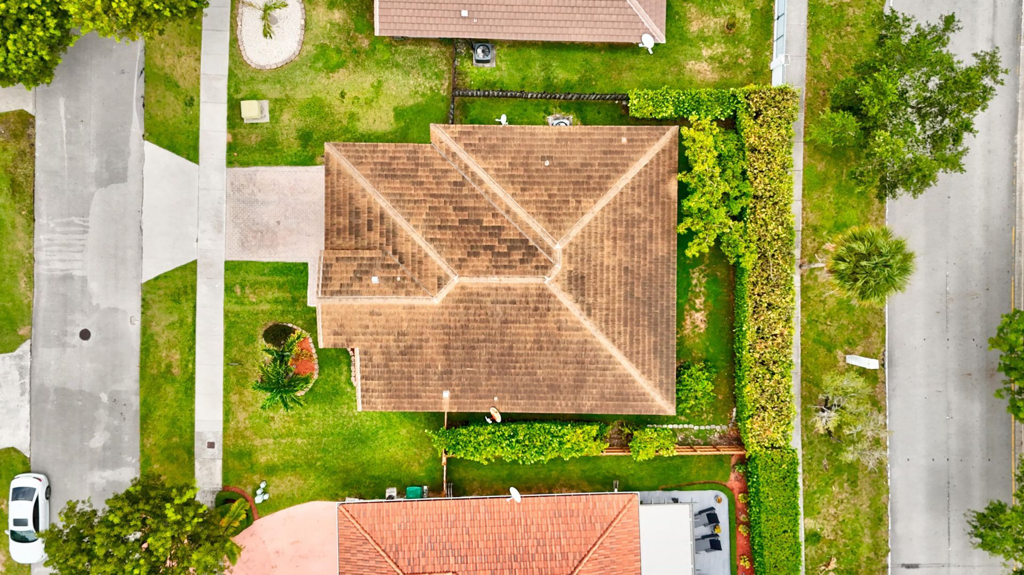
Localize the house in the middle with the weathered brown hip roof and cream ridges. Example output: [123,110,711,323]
[313,124,679,415]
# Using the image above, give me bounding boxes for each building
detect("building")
[313,124,679,415]
[335,485,644,575]
[370,0,667,44]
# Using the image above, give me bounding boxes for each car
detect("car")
[5,474,56,564]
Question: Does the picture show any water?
No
